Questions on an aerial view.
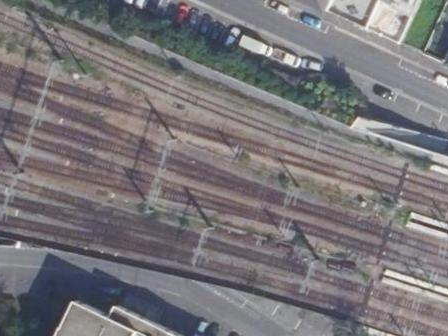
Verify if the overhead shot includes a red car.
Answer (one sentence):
Yes, the image includes a red car.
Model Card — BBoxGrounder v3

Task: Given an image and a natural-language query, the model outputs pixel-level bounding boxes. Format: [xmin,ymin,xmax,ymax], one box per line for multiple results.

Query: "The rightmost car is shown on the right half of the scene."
[433,73,448,86]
